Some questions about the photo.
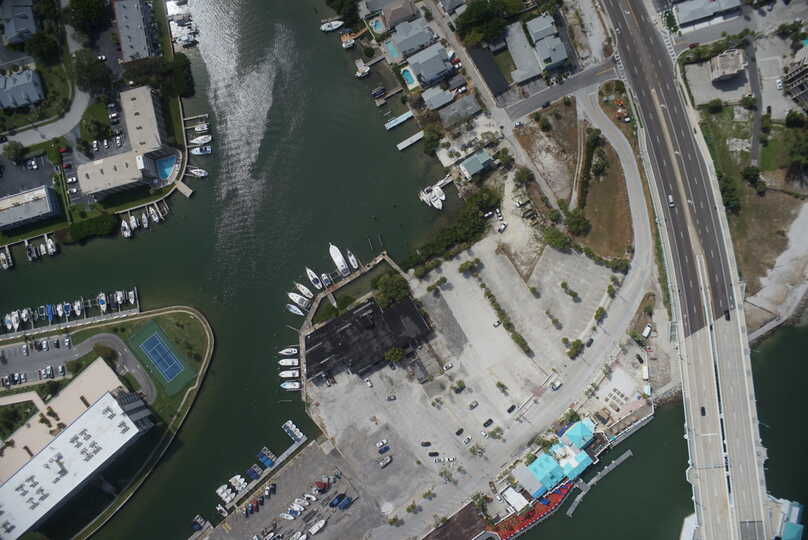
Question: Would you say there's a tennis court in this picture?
Yes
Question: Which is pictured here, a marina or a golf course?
marina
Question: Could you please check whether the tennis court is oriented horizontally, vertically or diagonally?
diagonally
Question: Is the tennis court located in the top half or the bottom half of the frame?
bottom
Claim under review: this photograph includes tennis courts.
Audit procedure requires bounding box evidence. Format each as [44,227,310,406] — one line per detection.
[129,320,196,393]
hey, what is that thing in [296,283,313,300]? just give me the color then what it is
white boat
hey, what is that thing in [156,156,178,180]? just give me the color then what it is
blue swimming pool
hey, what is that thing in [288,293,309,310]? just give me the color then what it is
white boat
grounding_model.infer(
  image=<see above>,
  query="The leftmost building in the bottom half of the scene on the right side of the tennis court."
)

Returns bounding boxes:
[306,302,389,380]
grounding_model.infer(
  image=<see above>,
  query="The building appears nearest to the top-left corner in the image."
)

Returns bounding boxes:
[2,0,41,44]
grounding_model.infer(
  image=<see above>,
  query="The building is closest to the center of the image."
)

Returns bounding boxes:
[372,298,431,348]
